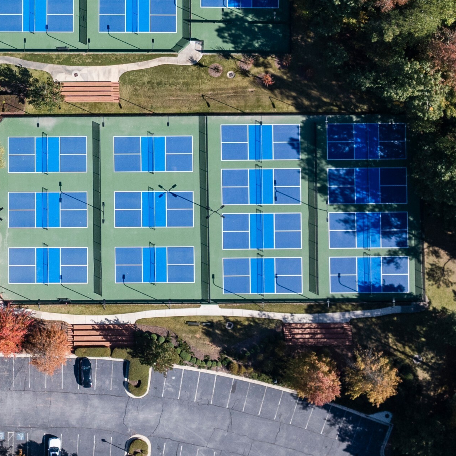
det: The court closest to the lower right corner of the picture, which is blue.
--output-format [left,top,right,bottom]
[329,255,410,296]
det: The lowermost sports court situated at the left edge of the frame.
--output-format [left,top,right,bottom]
[9,245,88,286]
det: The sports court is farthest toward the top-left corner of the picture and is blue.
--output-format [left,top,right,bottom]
[0,0,74,34]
